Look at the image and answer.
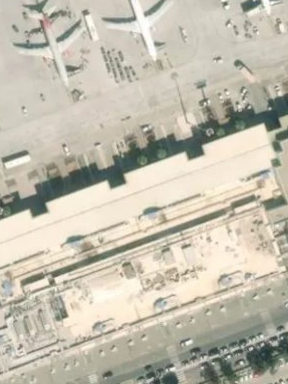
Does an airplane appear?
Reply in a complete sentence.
Yes, there is an airplane in the image.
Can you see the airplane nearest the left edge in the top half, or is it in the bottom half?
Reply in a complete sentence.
It is in the top half that the airplane nearest the left edge appears.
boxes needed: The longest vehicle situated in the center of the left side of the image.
[2,152,31,168]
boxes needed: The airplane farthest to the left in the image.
[19,5,84,85]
